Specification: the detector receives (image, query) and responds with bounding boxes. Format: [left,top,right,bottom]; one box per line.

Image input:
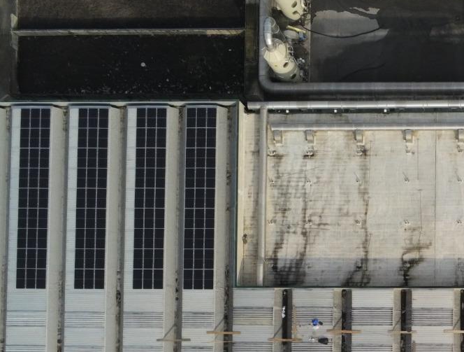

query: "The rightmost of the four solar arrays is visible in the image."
[182,107,214,289]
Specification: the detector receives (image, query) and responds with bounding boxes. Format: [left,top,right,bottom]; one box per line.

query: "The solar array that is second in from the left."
[74,108,106,289]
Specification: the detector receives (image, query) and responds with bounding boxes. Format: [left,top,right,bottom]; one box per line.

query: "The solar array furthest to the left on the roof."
[15,108,47,289]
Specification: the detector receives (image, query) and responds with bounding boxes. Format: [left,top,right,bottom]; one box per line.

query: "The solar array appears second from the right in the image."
[132,107,164,289]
